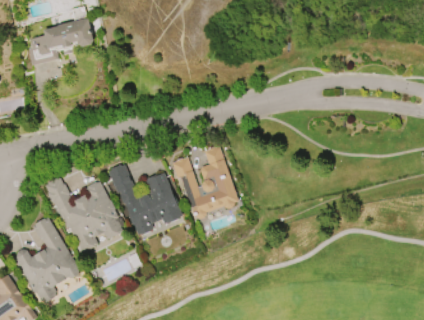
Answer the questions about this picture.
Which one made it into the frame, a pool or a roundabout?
pool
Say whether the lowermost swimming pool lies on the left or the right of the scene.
left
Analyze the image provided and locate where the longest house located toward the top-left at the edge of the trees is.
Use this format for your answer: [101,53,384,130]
[31,19,94,64]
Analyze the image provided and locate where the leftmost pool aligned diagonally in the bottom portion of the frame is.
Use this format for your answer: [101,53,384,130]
[68,284,91,303]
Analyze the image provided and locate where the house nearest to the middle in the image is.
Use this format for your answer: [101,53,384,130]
[172,148,240,222]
